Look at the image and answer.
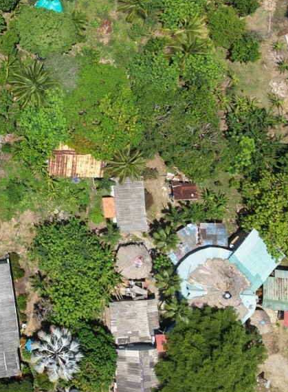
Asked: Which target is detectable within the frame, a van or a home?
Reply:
home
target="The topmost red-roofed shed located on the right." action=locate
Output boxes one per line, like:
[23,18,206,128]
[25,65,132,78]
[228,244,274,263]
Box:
[168,180,198,200]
